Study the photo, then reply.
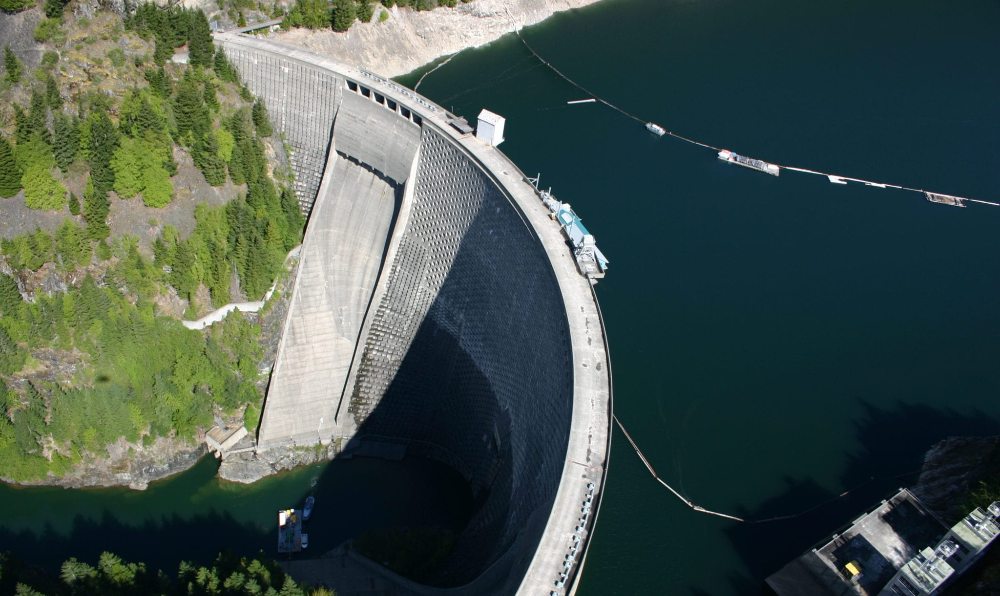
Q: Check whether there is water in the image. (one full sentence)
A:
Yes, there's water in this view.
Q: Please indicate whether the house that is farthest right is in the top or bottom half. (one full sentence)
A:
The house that is farthest right is in the bottom half of the image.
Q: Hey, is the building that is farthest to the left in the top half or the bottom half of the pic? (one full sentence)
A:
The building that is farthest to the left sits in the bottom half of the picture.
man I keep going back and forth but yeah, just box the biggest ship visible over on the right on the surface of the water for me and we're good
[717,146,779,176]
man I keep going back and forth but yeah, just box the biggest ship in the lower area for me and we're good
[278,507,302,554]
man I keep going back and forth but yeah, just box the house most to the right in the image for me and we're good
[934,505,1000,583]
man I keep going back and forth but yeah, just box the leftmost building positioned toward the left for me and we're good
[212,407,241,457]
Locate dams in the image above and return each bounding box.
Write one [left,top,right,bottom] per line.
[195,28,613,596]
